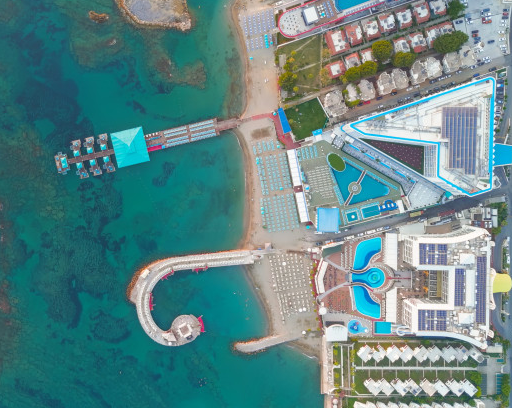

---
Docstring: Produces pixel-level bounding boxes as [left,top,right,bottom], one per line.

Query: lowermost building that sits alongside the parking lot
[331,76,512,210]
